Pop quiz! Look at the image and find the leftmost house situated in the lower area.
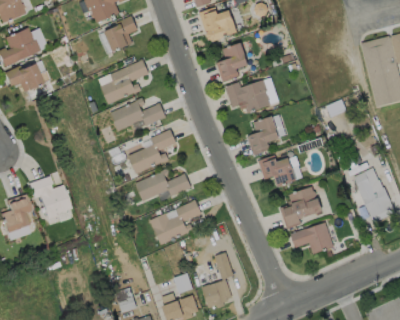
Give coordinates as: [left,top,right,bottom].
[2,195,34,240]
